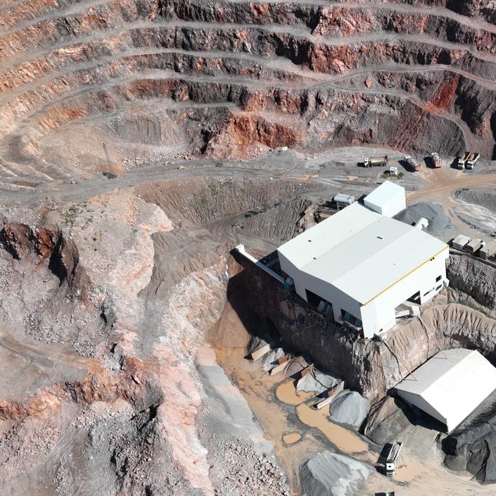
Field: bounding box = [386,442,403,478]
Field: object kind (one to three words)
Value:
vehicle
